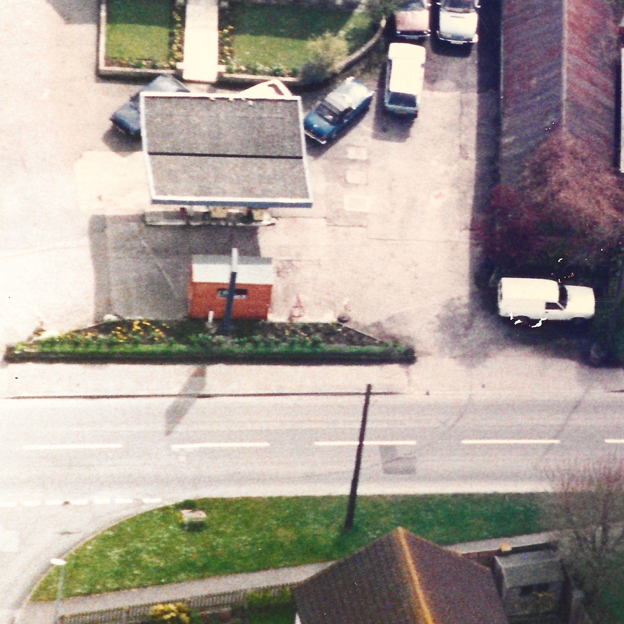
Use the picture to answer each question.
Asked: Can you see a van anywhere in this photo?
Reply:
Yes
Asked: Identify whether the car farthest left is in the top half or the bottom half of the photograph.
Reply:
top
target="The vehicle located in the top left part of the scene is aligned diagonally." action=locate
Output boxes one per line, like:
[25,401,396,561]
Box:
[103,83,192,143]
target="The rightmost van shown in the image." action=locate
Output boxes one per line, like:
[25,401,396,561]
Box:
[497,281,599,333]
